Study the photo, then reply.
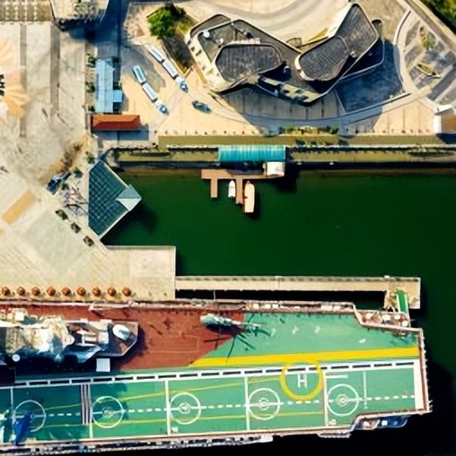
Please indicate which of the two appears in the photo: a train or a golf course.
train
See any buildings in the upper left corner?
Yes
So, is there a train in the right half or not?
No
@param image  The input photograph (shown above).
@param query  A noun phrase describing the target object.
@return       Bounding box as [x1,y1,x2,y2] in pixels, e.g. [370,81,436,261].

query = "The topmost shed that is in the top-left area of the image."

[95,57,123,112]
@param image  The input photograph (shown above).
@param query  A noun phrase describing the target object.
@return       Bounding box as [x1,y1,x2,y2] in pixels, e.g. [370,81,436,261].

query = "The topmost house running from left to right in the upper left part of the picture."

[91,114,140,132]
